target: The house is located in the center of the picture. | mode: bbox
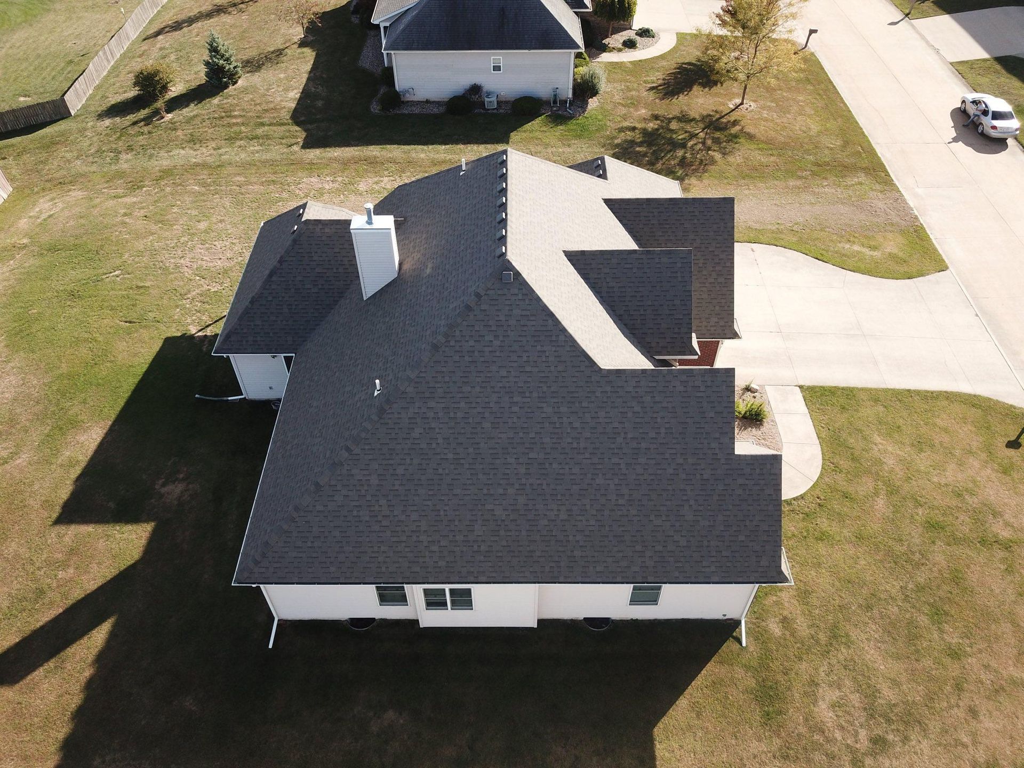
[196,148,795,647]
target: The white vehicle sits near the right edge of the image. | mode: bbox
[959,90,1024,139]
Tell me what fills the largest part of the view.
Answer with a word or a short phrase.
grass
